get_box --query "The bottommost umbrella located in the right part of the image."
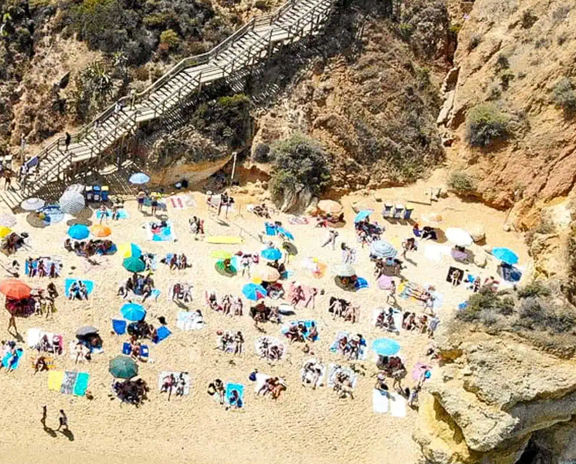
[359,338,404,379]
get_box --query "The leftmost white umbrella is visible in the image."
[0,216,18,231]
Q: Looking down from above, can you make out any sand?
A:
Yes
